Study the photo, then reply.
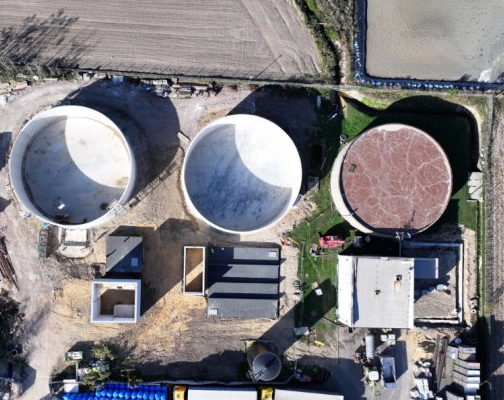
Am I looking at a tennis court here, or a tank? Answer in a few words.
tank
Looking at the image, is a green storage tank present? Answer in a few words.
No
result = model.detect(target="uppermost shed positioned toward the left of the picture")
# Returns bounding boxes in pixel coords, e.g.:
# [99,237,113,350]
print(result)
[106,236,142,271]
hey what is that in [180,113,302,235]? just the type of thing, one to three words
storage tank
